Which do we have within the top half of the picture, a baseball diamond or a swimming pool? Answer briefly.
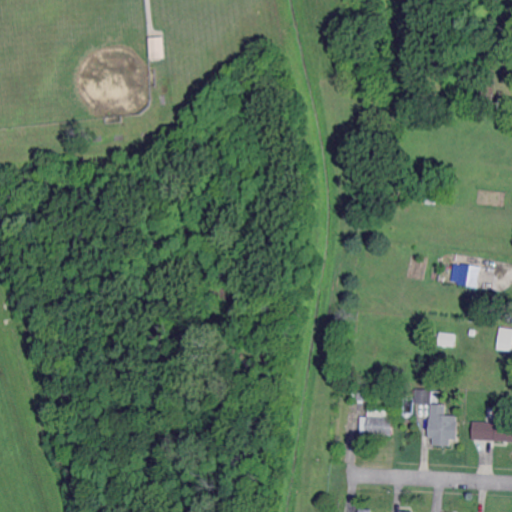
baseball diamond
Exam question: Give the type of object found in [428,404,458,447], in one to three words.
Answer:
house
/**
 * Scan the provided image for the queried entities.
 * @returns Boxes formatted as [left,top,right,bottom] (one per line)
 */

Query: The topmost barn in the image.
[450,263,482,290]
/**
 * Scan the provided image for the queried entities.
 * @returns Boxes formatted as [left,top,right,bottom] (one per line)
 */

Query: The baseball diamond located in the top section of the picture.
[76,45,150,117]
